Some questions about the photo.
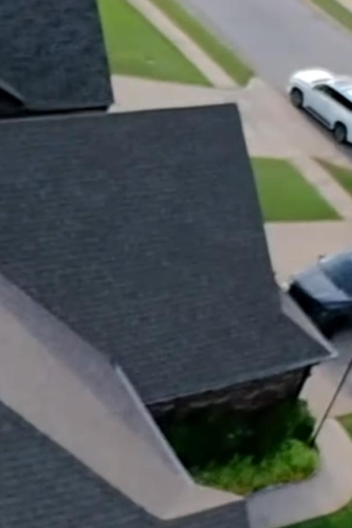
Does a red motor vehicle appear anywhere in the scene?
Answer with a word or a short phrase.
No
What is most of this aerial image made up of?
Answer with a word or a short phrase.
buildings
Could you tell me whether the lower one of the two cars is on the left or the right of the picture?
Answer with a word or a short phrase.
right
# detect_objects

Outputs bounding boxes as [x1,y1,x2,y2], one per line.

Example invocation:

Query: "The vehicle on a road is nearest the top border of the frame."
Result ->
[290,77,352,146]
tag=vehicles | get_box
[293,255,352,324]
[290,77,352,146]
